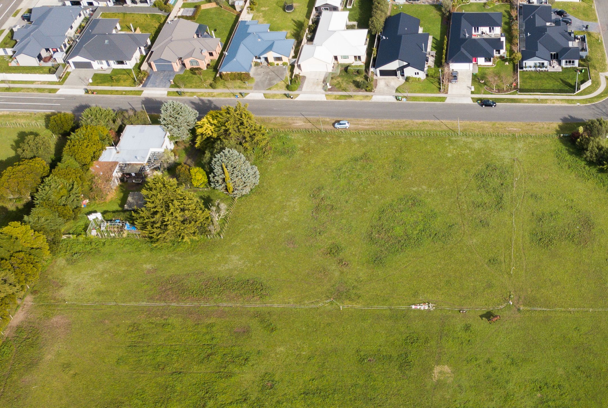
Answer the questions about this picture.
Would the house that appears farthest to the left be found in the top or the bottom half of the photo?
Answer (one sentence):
The house that appears farthest to the left is in the top half of the image.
